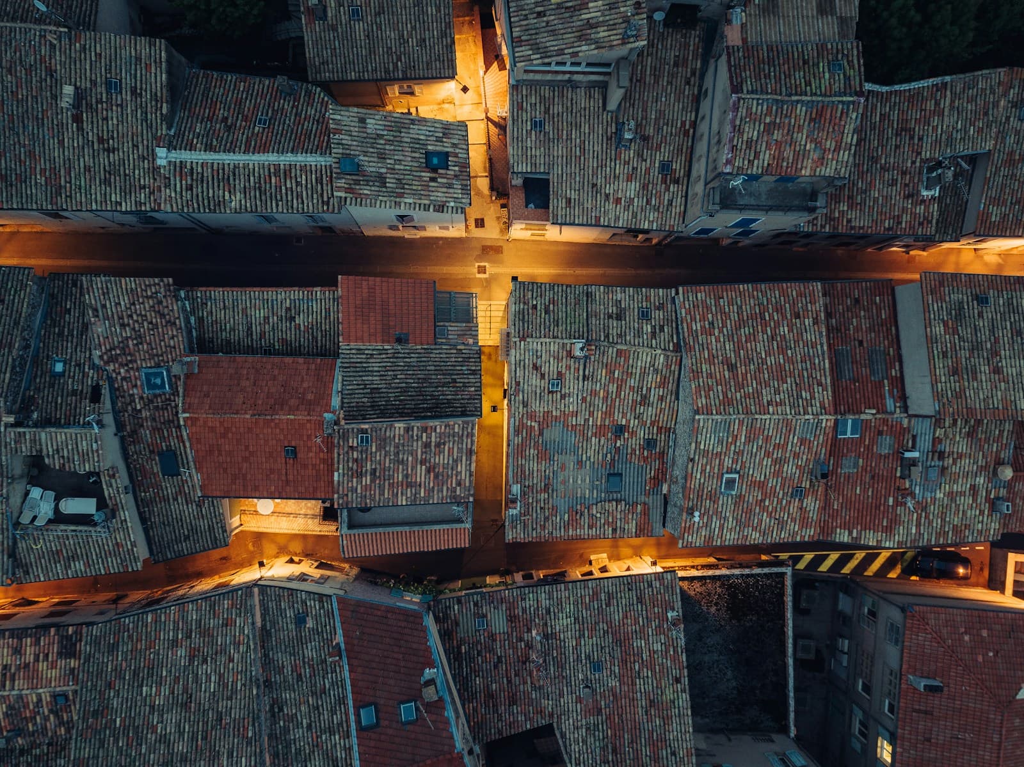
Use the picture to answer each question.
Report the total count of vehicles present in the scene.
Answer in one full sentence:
Altogether the scene contains 1 vehicle.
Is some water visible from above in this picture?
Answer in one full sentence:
No, there is no water in the image.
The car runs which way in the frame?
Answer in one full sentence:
The car is oriented from left to right.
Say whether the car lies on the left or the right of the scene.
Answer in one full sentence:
The car appears in the right half of the scene.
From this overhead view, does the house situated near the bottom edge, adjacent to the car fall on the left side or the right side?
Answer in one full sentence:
It is on the right.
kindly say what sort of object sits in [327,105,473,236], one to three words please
house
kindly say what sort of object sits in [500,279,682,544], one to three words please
house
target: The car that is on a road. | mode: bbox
[918,554,980,585]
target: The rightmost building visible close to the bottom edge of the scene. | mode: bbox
[841,576,1024,767]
